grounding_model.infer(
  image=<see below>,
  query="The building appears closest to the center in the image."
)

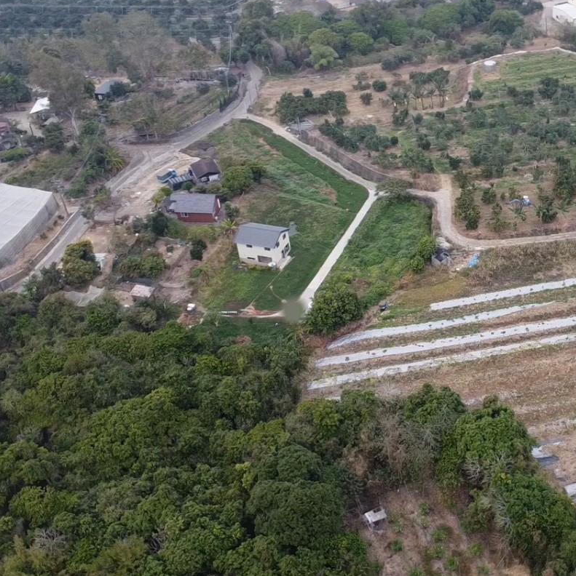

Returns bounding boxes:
[232,224,298,270]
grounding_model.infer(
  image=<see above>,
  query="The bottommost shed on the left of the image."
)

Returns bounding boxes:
[125,279,158,302]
